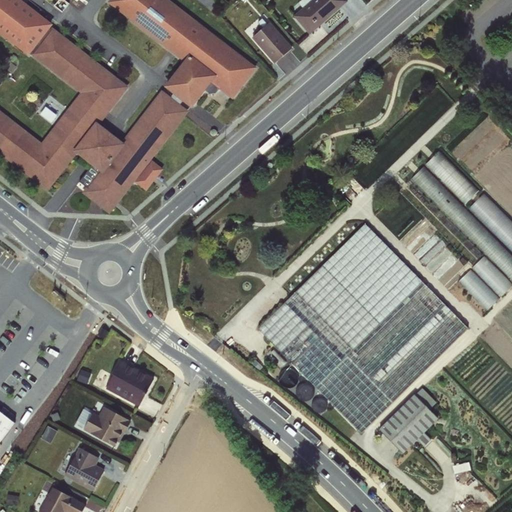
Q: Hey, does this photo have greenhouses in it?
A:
Yes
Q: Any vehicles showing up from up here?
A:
Yes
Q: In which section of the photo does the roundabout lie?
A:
left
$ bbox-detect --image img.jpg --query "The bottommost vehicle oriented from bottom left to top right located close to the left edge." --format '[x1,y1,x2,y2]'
[18,407,34,426]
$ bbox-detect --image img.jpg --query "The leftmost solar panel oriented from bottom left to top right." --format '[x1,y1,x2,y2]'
[114,126,161,184]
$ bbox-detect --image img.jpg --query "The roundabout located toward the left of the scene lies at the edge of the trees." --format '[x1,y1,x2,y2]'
[46,228,164,340]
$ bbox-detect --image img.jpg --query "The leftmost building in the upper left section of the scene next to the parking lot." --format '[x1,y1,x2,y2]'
[0,24,127,188]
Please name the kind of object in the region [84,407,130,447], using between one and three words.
house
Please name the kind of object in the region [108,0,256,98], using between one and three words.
building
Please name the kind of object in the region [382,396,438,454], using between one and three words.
barn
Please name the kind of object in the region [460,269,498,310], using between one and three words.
greenhouse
